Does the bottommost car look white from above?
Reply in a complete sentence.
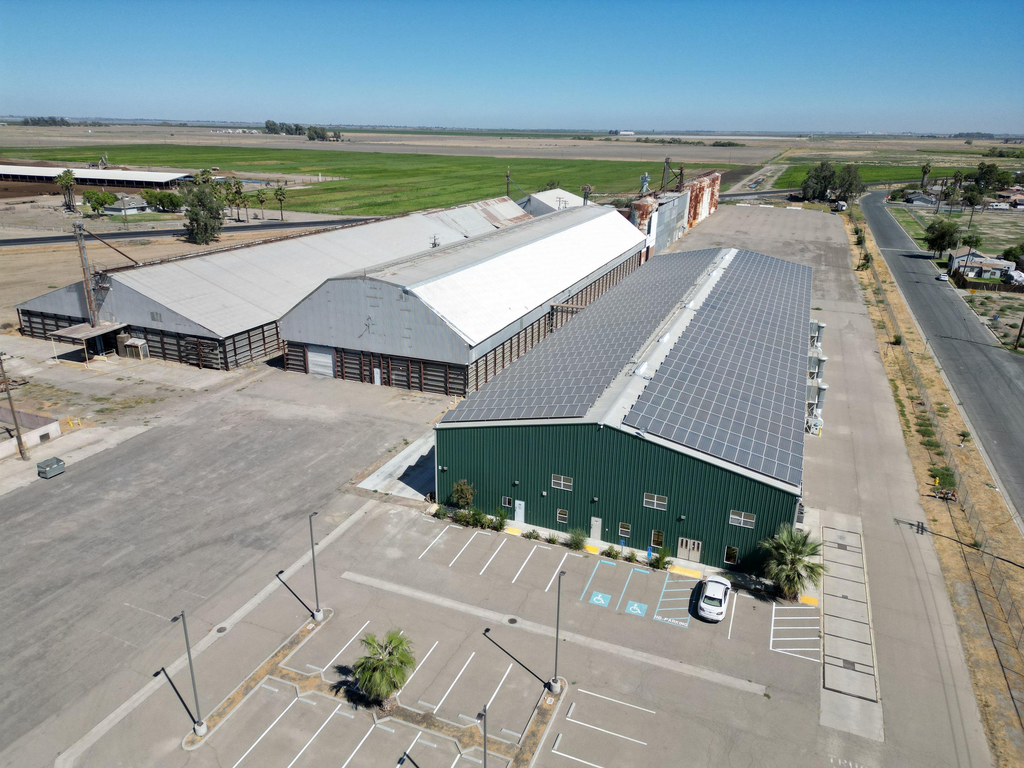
Yes, white is the color of the bottommost car.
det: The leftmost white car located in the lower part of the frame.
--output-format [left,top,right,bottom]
[698,573,735,622]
